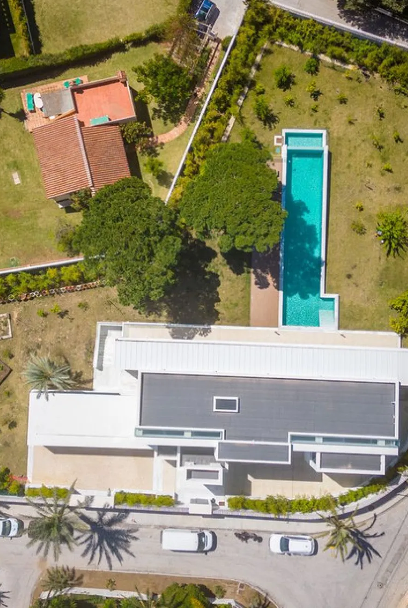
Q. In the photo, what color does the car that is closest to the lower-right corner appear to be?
white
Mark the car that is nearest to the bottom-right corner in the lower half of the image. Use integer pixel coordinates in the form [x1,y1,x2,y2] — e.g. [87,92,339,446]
[268,534,316,557]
